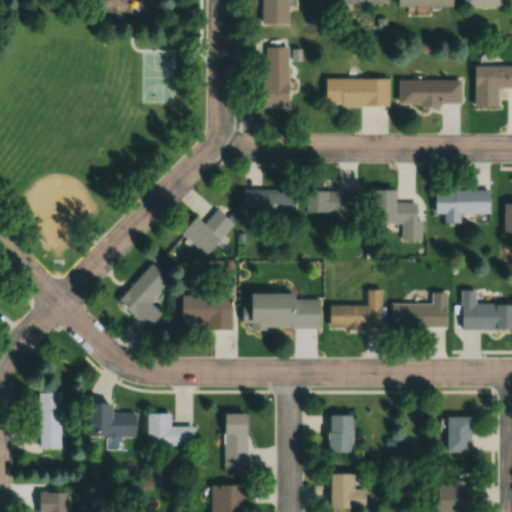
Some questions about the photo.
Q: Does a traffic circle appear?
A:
No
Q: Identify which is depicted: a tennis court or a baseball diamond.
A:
baseball diamond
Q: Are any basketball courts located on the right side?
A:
No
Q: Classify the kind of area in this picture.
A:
residential area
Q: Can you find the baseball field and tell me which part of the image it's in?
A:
left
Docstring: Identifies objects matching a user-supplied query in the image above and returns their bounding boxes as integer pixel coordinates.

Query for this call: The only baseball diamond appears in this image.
[25,172,100,262]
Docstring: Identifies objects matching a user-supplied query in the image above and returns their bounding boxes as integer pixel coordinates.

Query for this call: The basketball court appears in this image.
[144,52,177,104]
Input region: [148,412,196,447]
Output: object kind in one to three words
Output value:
house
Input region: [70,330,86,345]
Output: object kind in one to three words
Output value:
vehicle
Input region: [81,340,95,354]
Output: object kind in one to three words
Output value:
vehicle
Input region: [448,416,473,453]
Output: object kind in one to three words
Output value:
house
